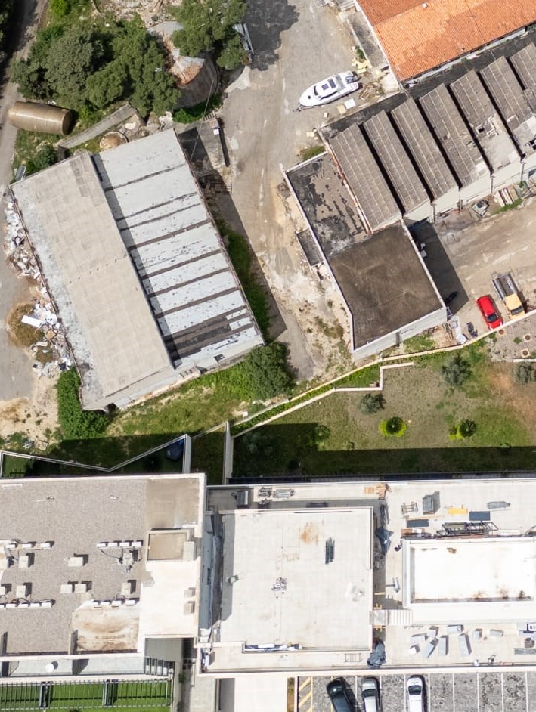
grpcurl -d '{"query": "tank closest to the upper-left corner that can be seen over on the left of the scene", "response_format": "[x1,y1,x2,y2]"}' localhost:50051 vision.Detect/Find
[11,103,73,135]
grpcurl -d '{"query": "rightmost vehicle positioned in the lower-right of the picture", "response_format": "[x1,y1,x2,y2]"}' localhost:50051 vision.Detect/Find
[405,675,425,712]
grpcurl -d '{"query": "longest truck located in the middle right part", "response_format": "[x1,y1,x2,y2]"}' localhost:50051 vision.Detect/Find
[489,264,523,316]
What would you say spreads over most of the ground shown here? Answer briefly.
buildings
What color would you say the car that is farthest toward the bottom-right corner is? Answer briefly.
white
